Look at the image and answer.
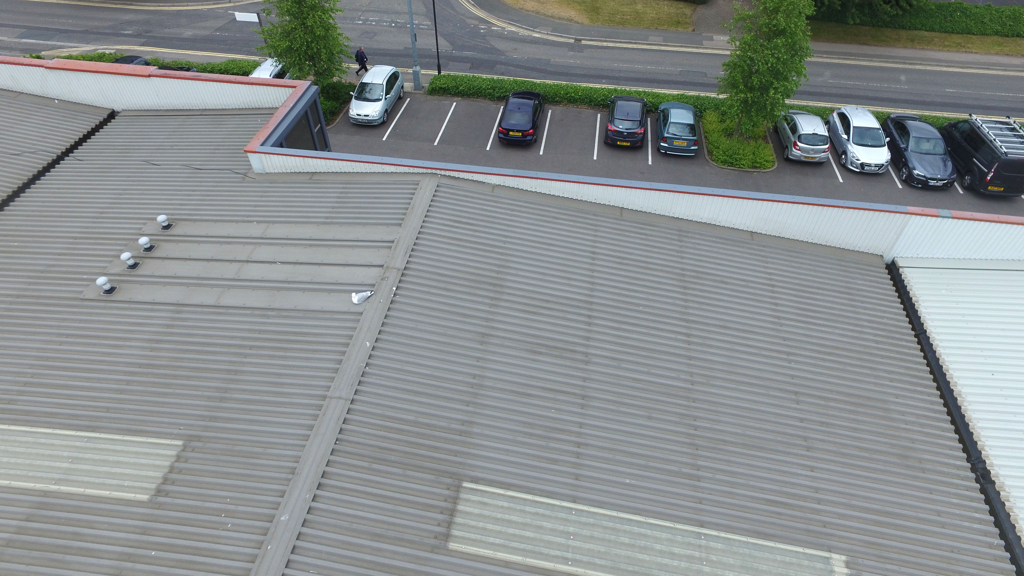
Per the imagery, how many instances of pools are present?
0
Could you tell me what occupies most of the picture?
buildings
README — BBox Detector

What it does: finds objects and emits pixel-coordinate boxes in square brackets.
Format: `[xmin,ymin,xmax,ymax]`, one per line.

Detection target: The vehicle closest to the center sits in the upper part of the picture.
[500,92,546,145]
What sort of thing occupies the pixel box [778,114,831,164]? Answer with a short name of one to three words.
car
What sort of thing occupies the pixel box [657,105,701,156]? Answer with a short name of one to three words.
car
